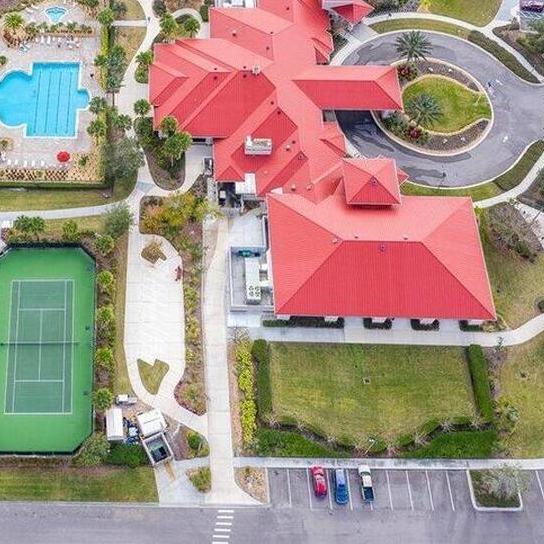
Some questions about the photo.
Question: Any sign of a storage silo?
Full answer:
No, no storage silo can be seen from above.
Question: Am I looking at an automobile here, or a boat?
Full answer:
The image shows an automobile.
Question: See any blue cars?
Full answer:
Yes, the picture does show a blue car.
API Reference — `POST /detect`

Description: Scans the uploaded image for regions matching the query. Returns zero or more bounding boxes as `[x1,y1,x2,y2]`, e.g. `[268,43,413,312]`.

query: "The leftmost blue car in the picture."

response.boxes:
[333,470,349,503]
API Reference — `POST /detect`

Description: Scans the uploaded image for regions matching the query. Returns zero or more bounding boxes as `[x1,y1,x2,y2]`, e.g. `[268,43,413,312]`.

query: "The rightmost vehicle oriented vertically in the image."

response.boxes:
[356,464,377,504]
